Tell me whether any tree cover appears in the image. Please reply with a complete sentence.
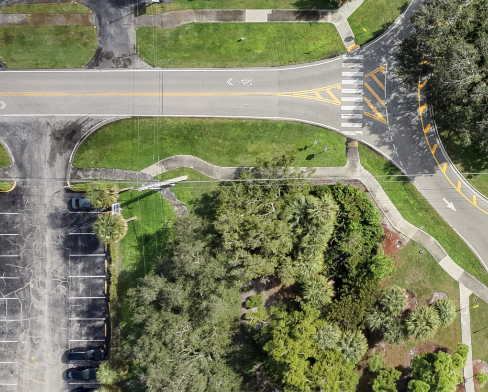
Yes, there is tree cover in the image.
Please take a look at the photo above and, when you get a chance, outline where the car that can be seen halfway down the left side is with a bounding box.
[66,196,96,213]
